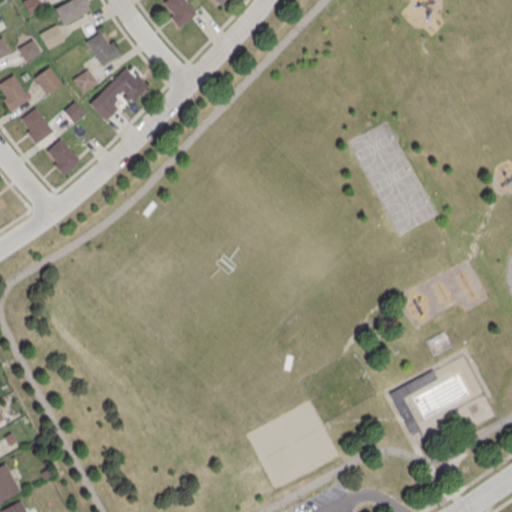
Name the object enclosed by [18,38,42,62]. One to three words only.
building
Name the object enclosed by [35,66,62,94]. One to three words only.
building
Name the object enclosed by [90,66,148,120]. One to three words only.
house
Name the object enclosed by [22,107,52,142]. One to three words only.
house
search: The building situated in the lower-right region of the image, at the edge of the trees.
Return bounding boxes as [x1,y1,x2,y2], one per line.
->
[391,372,437,436]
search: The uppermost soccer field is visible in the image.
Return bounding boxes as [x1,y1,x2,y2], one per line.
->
[103,127,356,380]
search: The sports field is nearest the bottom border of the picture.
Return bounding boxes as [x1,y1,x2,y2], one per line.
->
[303,352,376,423]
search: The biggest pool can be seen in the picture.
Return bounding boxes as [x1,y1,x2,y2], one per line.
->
[388,356,496,454]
